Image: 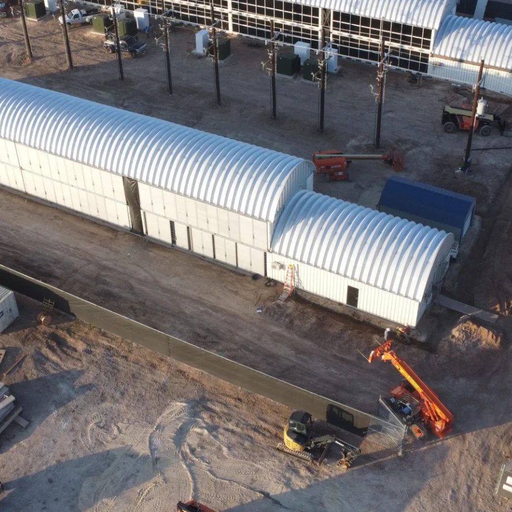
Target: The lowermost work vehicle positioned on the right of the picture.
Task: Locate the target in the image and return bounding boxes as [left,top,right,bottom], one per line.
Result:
[279,407,365,473]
